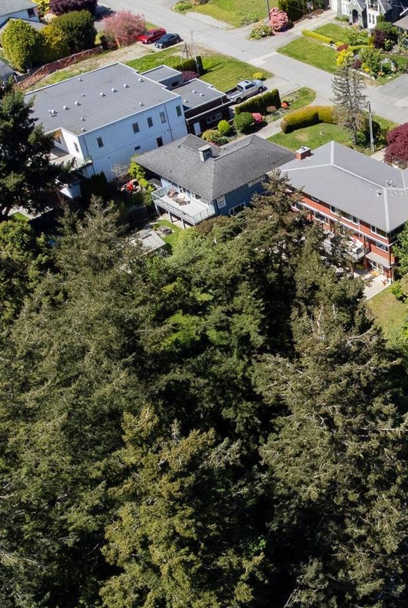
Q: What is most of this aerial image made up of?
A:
trees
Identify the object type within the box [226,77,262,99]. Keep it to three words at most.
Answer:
truck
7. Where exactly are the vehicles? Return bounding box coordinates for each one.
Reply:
[226,77,262,99]
[154,31,180,45]
[137,25,165,40]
